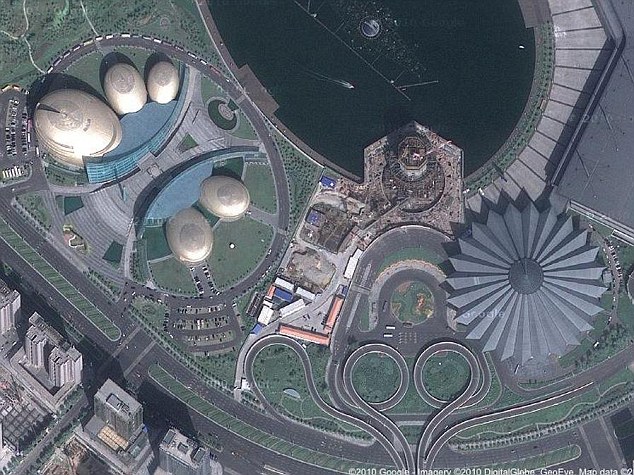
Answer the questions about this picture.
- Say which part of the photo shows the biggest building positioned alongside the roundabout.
right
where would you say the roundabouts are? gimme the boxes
[391,282,435,327]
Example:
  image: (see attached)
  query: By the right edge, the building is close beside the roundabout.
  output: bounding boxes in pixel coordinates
[446,201,612,366]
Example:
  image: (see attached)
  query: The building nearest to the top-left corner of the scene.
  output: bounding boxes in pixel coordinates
[85,59,191,184]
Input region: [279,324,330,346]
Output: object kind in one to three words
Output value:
shed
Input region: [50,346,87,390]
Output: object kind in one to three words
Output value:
building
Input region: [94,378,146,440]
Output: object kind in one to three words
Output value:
building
